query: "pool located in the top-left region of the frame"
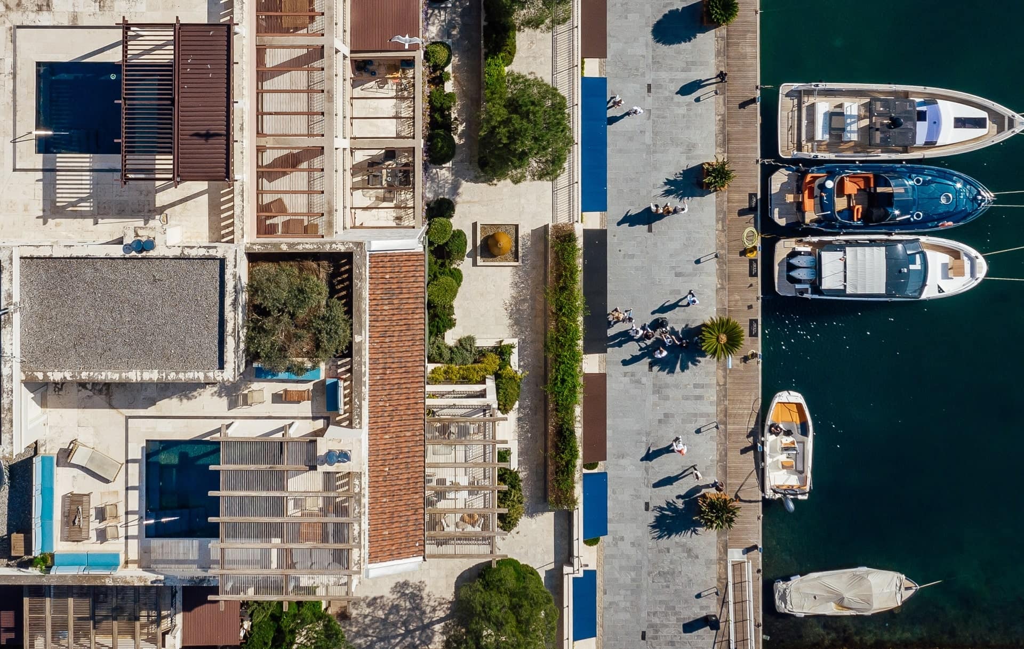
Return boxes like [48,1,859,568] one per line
[36,62,157,154]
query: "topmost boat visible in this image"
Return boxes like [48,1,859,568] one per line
[779,83,1024,159]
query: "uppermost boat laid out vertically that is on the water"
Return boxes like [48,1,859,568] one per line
[761,391,813,512]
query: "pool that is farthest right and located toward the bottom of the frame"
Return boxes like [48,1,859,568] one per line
[146,440,283,537]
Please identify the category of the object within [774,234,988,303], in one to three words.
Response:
boat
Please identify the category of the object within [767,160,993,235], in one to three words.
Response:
boat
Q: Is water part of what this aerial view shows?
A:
Yes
